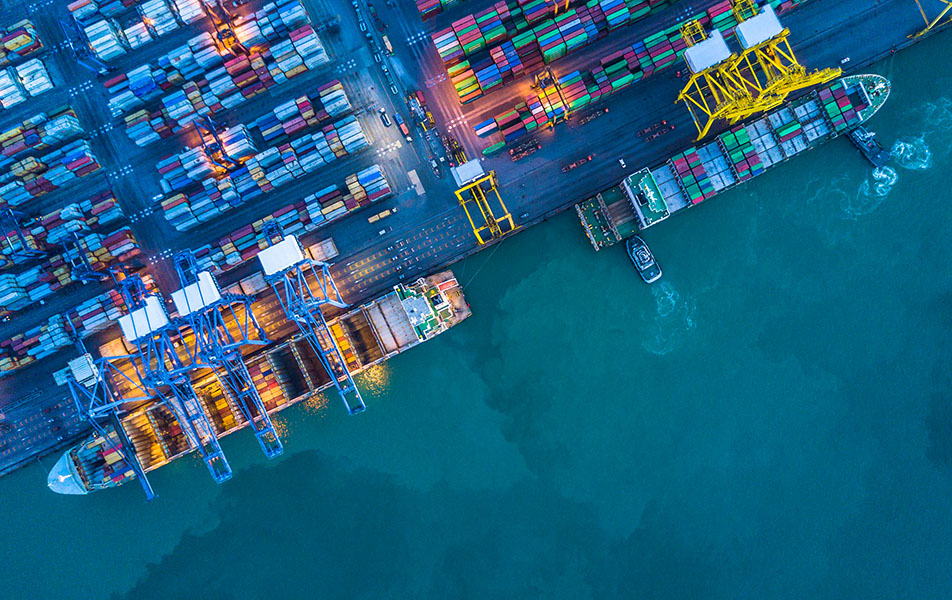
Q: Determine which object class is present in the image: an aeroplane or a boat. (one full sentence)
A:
This aerial view contains a boat.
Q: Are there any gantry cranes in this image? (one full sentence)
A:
Yes, this view includes a gantry crane.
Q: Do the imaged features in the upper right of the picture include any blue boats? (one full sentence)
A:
Yes, a blue boat shows up in the upper right of the picture.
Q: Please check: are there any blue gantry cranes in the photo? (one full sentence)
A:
Yes, looking at the shot, I can spot a blue gantry crane.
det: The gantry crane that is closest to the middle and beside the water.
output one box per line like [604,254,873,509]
[446,140,519,245]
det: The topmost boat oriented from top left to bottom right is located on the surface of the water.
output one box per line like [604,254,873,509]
[843,130,895,175]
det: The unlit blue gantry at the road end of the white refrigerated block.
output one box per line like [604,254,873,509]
[24,24,91,91]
